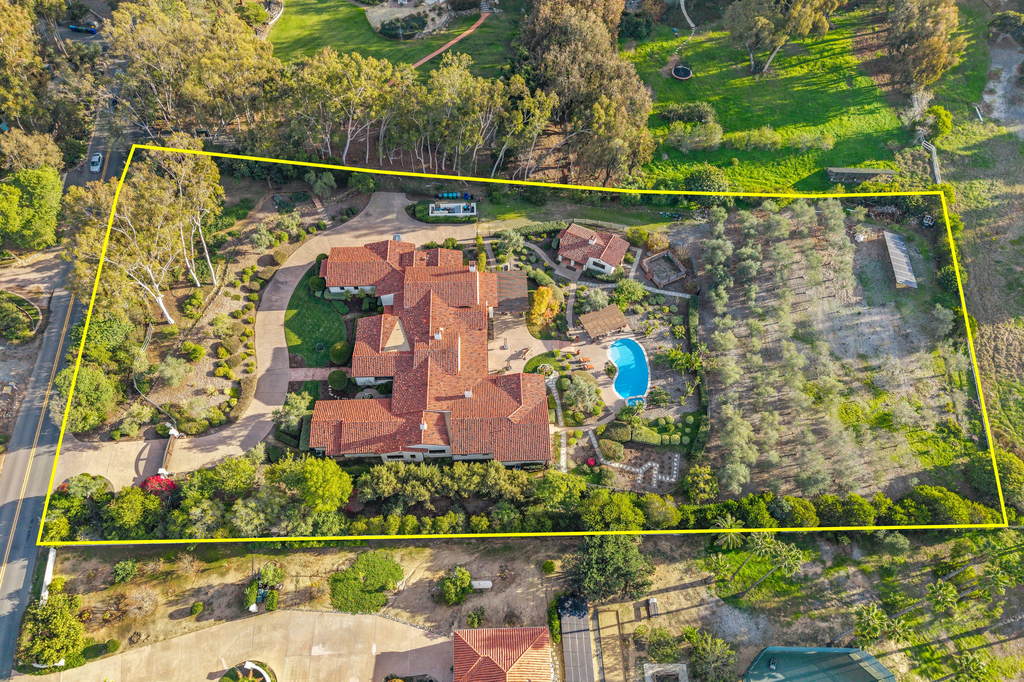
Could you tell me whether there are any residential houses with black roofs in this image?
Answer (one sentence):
No, there's no residential house with a black roof here.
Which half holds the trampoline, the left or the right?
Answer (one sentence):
You can find the trampoline on the right side of the picture.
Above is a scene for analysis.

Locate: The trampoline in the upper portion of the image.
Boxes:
[672,59,694,81]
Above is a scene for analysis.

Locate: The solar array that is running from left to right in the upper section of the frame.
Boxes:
[826,167,899,182]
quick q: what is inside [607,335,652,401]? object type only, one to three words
swimming pool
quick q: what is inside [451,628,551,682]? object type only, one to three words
building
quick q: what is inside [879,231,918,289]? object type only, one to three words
solar array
